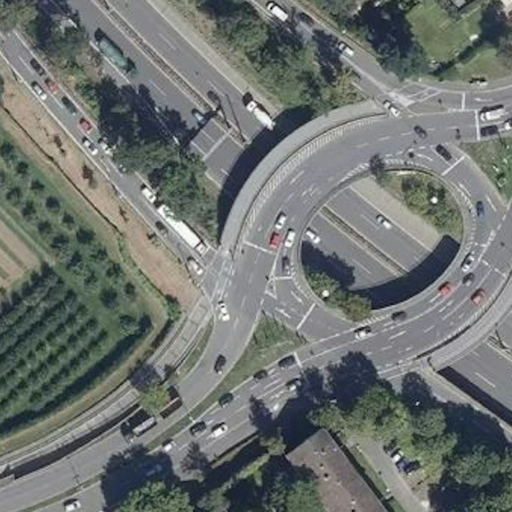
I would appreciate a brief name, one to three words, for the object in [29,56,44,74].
car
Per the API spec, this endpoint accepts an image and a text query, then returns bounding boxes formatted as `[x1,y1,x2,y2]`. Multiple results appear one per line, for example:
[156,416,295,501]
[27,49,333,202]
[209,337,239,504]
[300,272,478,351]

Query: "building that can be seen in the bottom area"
[286,429,389,512]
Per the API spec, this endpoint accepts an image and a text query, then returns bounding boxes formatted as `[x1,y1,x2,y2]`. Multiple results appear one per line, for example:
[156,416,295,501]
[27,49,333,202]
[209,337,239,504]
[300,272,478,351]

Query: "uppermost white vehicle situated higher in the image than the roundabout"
[266,0,291,23]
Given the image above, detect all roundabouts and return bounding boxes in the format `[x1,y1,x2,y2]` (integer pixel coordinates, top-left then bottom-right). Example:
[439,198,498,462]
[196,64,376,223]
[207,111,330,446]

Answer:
[212,109,512,378]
